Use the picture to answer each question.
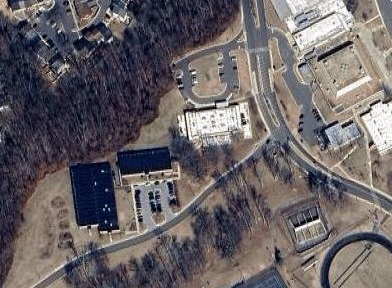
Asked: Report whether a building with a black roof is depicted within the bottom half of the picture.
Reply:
Yes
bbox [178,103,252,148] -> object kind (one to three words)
building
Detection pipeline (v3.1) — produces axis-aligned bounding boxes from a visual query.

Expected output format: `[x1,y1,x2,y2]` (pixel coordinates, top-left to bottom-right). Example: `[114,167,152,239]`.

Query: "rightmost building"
[360,102,392,158]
